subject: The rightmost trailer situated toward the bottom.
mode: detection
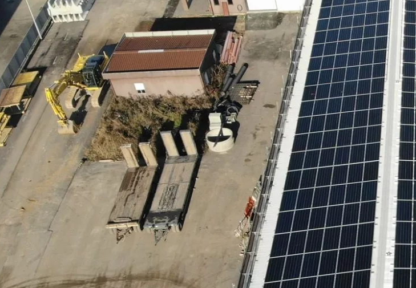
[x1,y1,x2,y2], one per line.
[133,133,201,251]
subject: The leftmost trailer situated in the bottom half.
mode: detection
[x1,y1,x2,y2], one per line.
[95,143,162,249]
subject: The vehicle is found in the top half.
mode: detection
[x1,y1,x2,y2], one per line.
[45,60,112,129]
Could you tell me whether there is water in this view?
No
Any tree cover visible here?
No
